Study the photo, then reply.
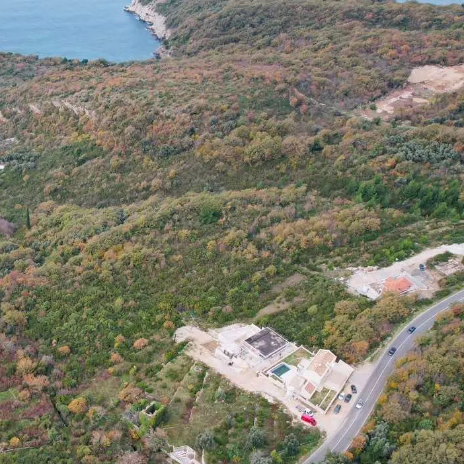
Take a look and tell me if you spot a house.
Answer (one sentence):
Yes, you can see a house in this photo.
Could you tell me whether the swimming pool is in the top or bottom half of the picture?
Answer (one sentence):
The swimming pool sits in the bottom half of the picture.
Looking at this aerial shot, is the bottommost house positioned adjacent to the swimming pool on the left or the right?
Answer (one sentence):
The bottommost house positioned adjacent to the swimming pool is on the right side of the image.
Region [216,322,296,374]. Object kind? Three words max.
house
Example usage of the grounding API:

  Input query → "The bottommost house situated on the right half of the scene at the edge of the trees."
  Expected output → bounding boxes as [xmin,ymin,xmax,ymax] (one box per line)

[285,349,355,407]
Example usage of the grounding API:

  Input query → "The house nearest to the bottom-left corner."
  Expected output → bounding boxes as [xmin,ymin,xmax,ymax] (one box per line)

[137,400,166,426]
